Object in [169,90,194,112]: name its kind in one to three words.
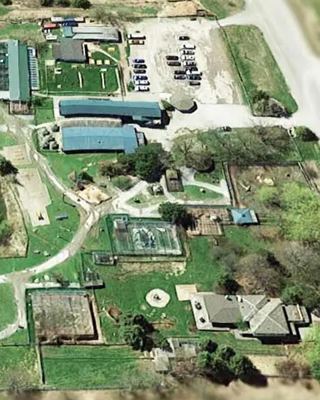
building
